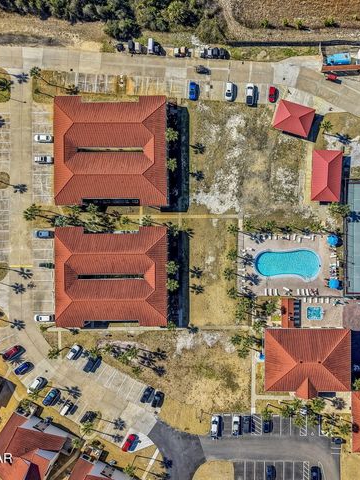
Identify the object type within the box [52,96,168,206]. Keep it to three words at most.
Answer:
building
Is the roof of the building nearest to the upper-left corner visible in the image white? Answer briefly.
No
